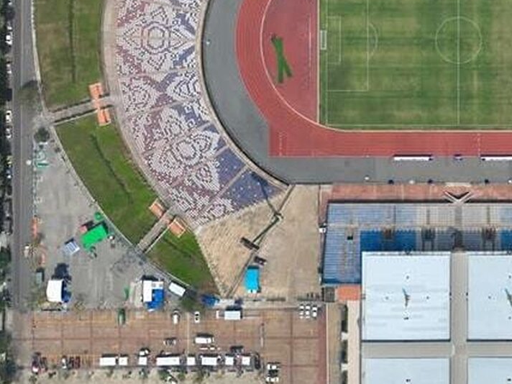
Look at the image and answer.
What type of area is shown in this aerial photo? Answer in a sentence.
What you see here is a sports ground.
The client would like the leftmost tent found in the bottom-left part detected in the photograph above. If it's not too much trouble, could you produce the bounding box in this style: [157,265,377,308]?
[48,276,72,301]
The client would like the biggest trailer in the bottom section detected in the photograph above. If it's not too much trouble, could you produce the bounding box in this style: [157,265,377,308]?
[137,276,162,308]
